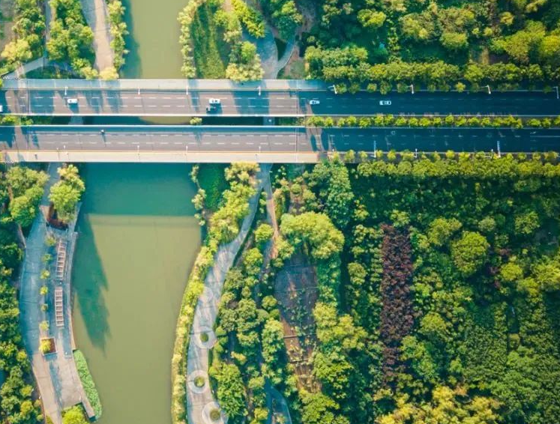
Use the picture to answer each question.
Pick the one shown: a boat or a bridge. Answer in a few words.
bridge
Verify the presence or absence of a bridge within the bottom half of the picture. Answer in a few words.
No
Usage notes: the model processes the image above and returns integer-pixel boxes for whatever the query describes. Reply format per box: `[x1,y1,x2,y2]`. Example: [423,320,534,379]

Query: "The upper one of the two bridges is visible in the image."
[5,79,322,115]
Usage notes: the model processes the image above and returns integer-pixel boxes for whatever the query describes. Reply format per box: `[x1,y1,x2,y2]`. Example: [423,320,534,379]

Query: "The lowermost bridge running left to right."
[0,126,325,161]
